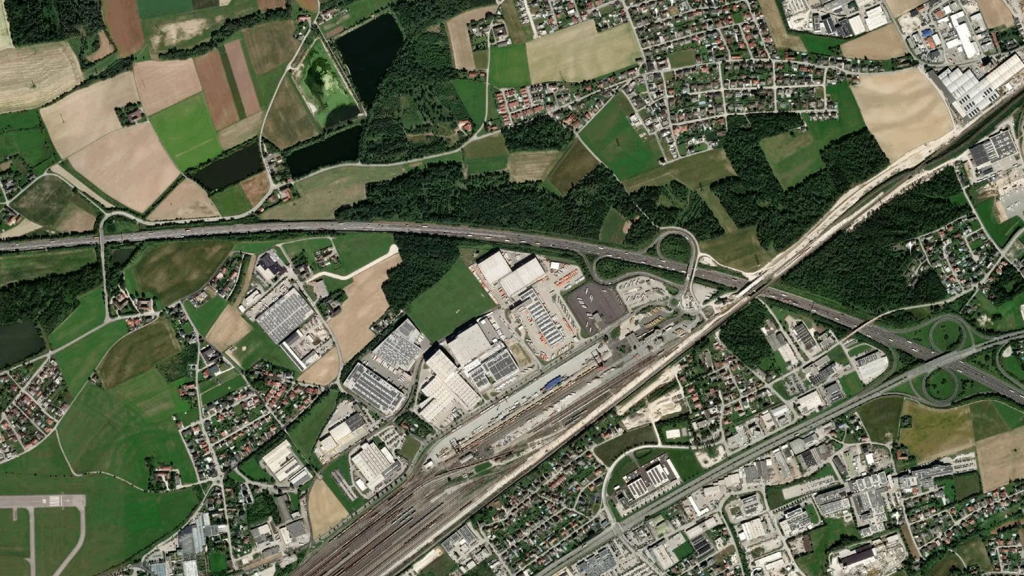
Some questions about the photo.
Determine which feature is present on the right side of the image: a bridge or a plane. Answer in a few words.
bridge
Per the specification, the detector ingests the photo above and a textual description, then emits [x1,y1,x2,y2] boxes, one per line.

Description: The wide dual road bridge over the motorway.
[892,332,1002,386]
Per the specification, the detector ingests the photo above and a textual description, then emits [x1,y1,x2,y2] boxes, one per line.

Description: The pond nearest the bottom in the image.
[0,320,45,370]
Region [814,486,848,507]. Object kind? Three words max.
building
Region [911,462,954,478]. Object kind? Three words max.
building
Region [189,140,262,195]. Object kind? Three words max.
pond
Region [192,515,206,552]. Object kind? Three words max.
greenhouse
